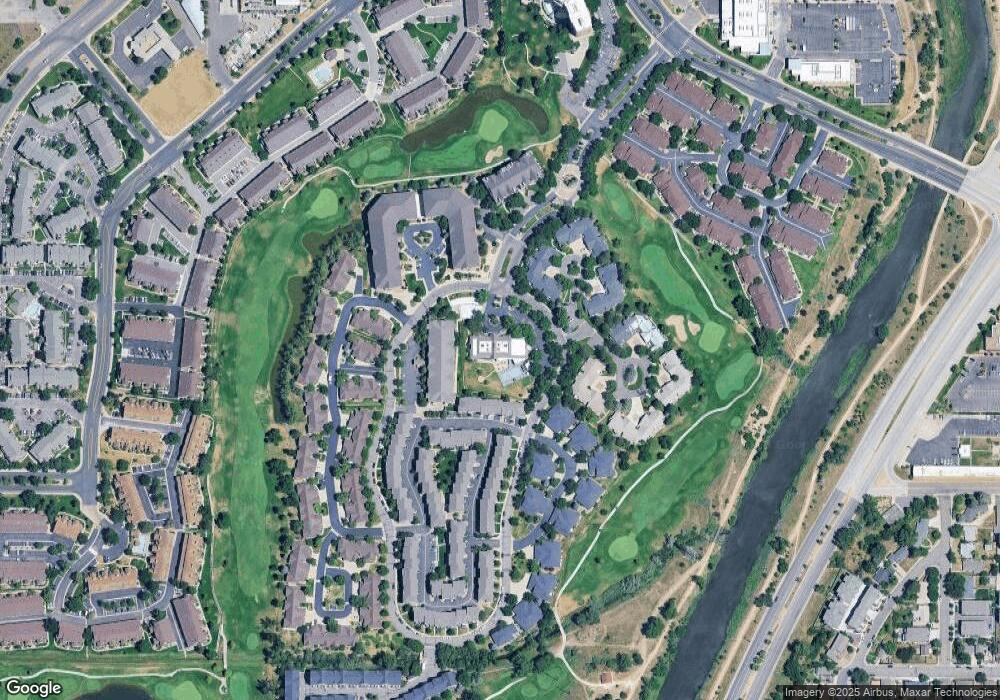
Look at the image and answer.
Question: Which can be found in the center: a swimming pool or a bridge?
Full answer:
The one visible in the center is a swimming pool.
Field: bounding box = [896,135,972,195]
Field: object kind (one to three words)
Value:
bridge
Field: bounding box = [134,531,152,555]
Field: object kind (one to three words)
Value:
swimming pool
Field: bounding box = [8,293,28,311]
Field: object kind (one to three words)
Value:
building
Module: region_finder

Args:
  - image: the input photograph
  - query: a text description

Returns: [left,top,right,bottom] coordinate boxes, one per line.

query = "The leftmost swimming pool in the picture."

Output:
[24,298,44,316]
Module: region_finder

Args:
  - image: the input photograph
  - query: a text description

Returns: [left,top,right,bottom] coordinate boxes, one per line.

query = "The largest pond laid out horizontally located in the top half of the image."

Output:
[405,85,549,153]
